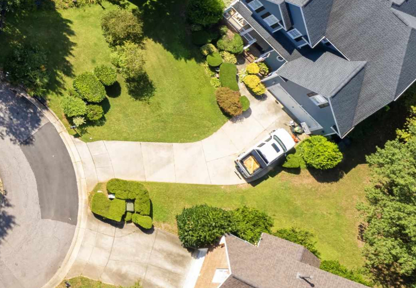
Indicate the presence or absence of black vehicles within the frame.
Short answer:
No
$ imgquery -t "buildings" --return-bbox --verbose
[194,233,370,288]
[223,0,416,139]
